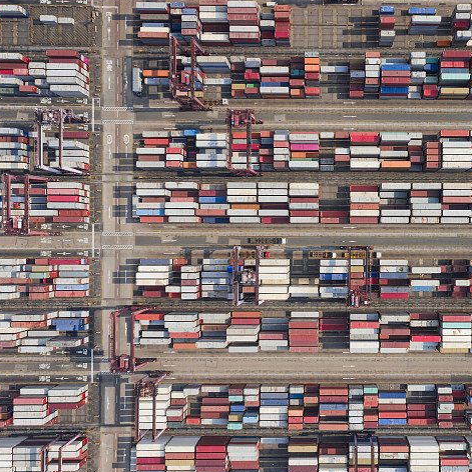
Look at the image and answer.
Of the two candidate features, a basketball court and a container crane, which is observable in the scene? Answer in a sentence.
There is a container crane in the scene.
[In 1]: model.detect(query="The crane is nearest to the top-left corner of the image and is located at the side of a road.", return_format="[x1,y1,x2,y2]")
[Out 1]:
[37,105,94,177]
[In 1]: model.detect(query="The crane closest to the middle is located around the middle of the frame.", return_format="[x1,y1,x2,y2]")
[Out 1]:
[232,243,272,308]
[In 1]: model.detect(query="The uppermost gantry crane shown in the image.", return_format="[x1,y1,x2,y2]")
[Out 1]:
[170,31,215,109]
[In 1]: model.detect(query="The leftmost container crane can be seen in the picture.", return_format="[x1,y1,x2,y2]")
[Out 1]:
[2,169,63,234]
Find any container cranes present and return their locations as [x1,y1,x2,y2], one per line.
[41,428,92,472]
[134,370,178,445]
[347,429,375,472]
[342,244,371,308]
[232,243,272,308]
[2,169,63,234]
[37,105,94,177]
[226,106,263,177]
[109,302,159,371]
[170,31,215,109]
